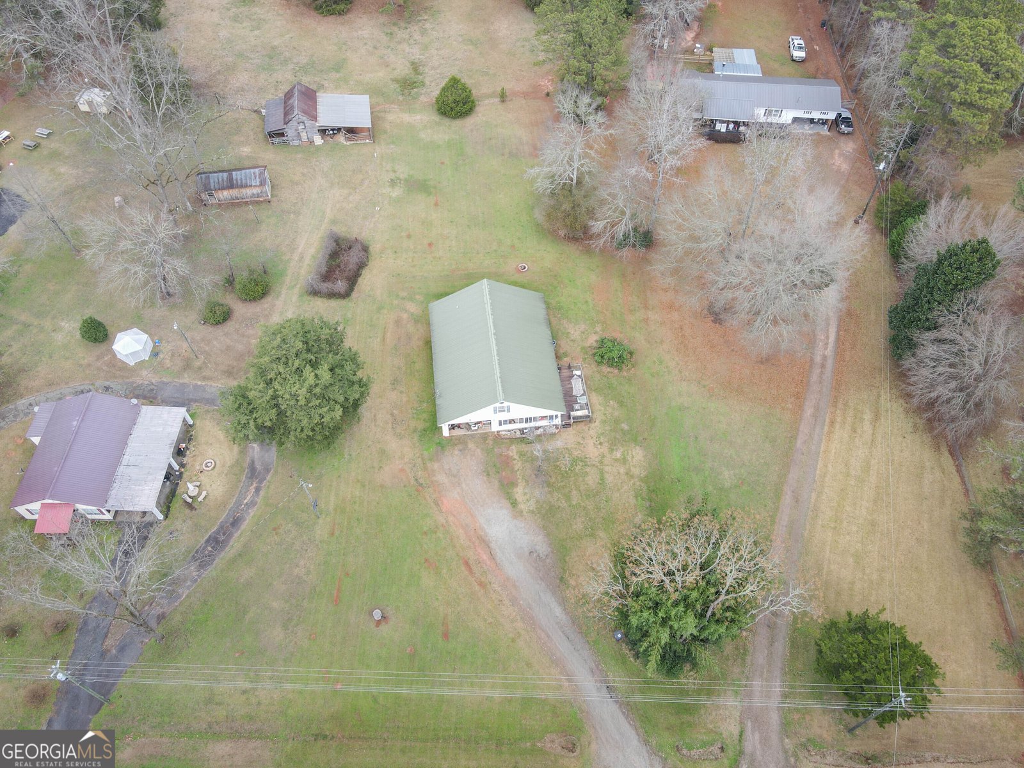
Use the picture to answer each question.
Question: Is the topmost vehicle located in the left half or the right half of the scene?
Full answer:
It is on the right.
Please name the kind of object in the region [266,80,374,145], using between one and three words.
barn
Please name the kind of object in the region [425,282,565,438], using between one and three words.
house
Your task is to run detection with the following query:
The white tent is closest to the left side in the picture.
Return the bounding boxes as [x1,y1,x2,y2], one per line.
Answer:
[110,328,156,368]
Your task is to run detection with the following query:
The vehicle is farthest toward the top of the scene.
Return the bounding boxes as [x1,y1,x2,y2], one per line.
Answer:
[790,32,810,60]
